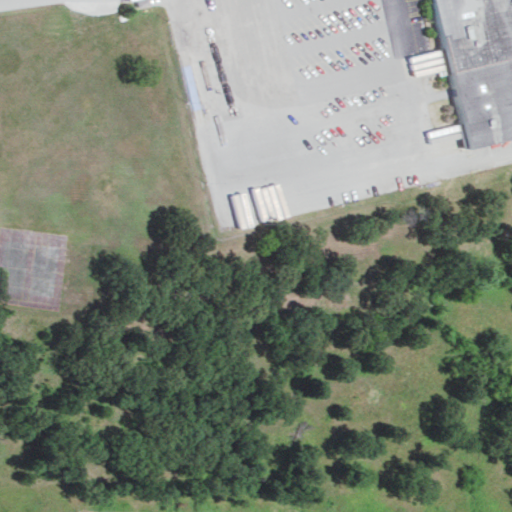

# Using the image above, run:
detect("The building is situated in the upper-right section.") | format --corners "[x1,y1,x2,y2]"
[434,0,512,148]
